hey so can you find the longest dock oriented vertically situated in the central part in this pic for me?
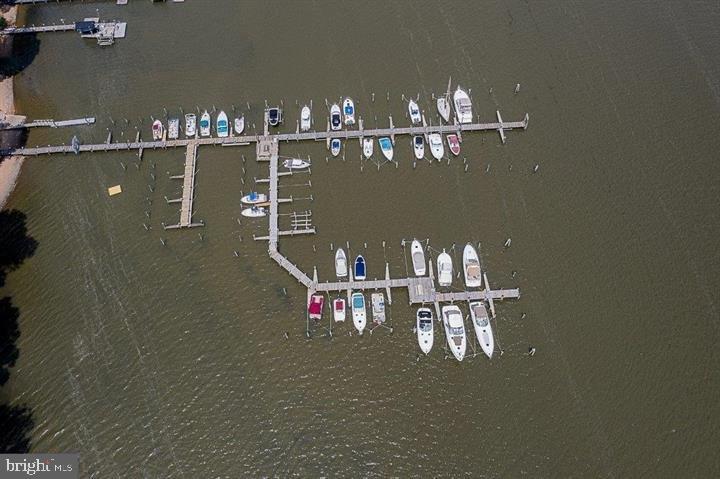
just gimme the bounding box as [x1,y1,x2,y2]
[252,140,316,290]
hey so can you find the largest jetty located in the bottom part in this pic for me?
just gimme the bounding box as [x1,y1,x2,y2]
[306,242,520,353]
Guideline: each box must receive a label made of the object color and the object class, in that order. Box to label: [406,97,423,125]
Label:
white boat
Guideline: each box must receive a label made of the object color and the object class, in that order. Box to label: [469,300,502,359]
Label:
white boat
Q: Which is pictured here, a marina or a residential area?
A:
marina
